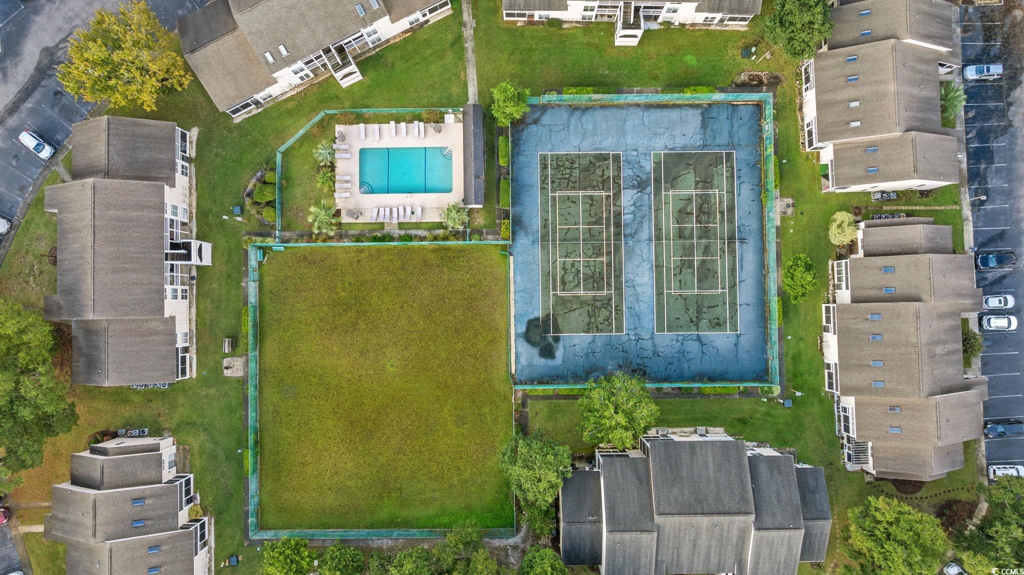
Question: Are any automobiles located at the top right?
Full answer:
Yes, I can see an automobile at the top right.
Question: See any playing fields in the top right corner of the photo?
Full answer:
No, no playing field can be made out in the top right corner of the photo.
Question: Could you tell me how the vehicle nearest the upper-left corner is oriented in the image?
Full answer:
The vehicle nearest the upper-left corner runs at an angle in the image.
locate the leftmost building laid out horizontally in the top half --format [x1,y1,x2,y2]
[173,0,451,118]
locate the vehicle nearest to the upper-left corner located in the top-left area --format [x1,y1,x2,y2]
[13,128,53,158]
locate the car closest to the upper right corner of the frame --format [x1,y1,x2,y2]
[966,61,1010,80]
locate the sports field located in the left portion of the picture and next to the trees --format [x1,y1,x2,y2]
[258,245,514,529]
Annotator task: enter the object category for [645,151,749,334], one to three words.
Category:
tennis court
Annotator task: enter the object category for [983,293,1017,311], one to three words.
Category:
car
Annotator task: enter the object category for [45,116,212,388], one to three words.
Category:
building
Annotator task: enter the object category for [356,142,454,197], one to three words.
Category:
swimming pool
